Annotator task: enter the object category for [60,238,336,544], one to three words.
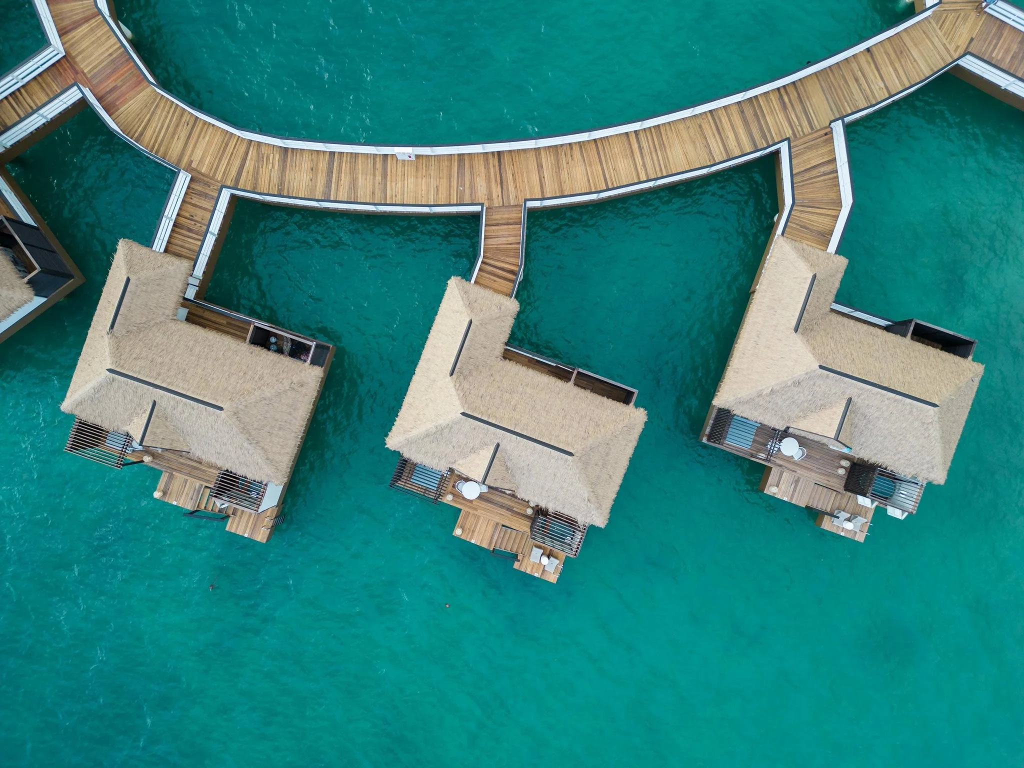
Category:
house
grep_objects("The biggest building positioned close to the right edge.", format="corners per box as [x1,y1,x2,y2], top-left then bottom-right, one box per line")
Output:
[696,231,981,541]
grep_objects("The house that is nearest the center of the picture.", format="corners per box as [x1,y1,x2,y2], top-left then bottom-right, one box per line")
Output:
[383,274,650,583]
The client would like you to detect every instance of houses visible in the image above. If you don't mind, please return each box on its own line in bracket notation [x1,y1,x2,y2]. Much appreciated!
[60,238,336,544]
[0,122,85,343]
[696,231,981,541]
[383,274,650,583]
